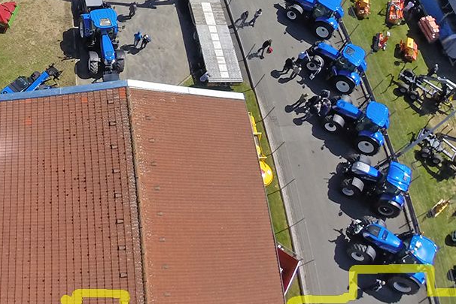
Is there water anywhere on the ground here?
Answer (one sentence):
No, no water is visible.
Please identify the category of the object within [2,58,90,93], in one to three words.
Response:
work vehicle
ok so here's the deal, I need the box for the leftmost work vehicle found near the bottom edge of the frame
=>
[322,212,442,293]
